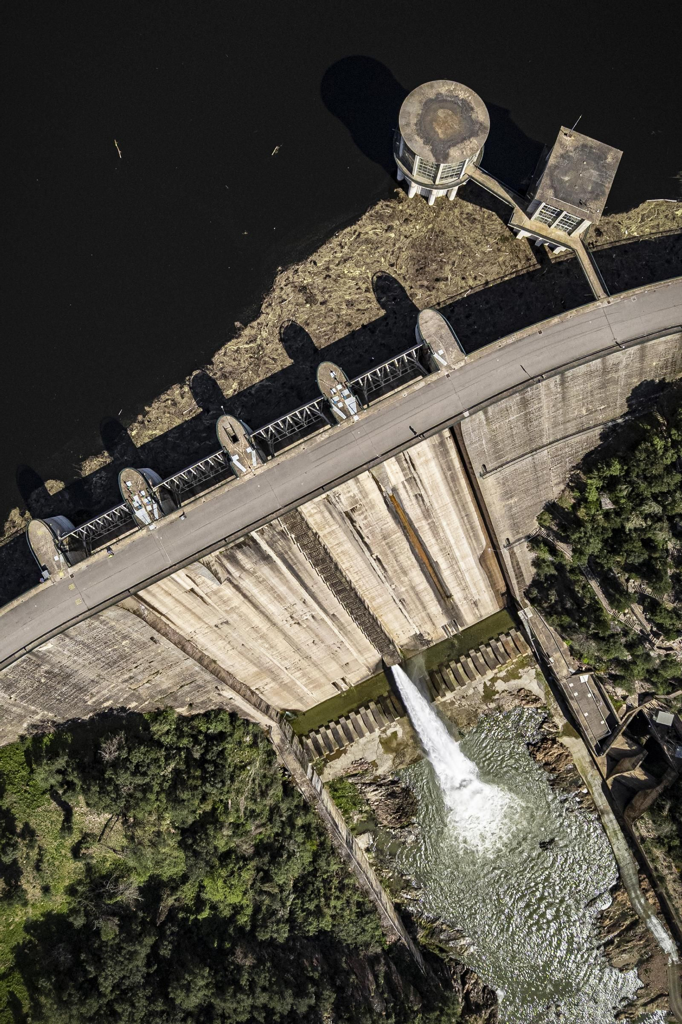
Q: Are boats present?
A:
No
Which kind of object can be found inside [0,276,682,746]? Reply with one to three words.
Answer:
dam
